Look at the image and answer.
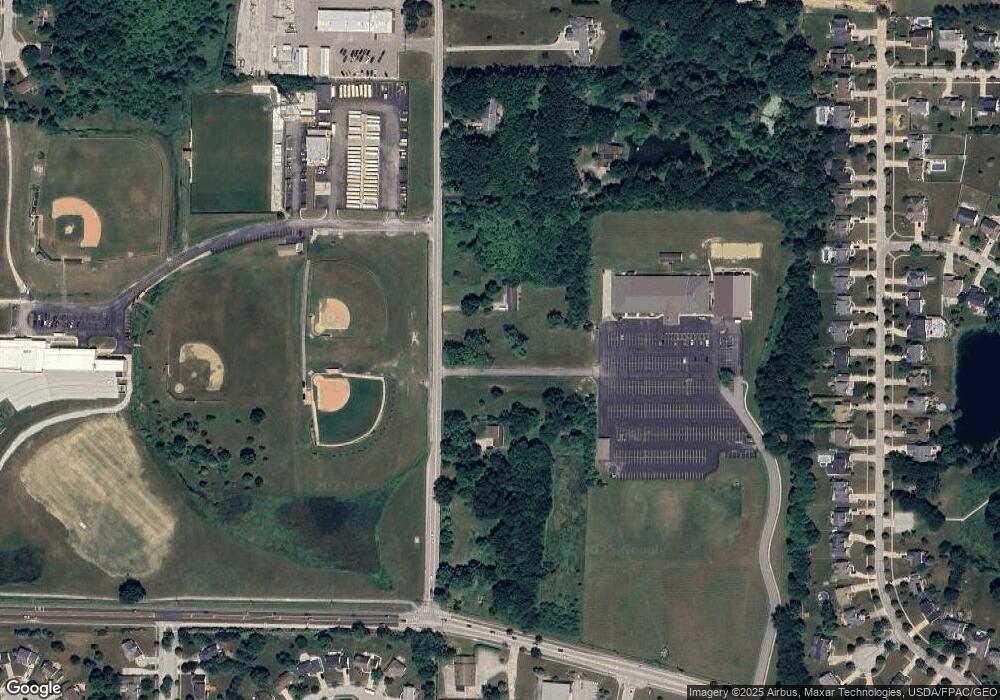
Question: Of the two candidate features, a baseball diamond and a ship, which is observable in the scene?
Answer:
baseball diamond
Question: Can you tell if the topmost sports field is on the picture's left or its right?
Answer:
left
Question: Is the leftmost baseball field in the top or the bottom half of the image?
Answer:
top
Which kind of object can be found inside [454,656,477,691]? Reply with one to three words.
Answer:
building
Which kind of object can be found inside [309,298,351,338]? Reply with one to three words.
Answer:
baseball field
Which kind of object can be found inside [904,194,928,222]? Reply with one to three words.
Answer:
house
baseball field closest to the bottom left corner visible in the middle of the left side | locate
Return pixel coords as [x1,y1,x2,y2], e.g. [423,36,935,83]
[165,334,224,401]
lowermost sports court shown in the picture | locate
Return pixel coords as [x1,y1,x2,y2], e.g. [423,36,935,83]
[702,238,762,260]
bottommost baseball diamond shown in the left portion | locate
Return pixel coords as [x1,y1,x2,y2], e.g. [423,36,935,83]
[305,369,386,446]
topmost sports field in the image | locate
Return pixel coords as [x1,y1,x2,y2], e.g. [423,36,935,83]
[189,94,279,213]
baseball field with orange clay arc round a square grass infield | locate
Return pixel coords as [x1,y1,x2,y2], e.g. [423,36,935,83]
[37,197,161,280]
